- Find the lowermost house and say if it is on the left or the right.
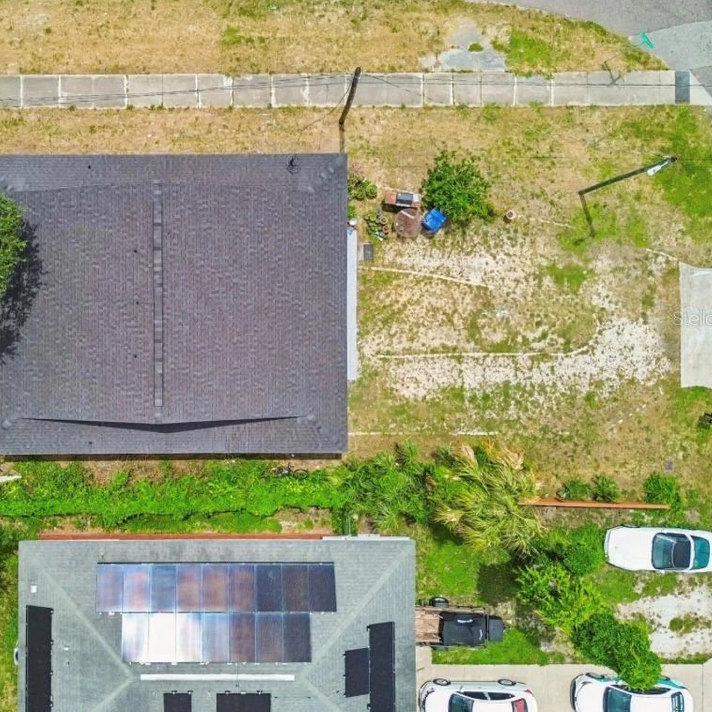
left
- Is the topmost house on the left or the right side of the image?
left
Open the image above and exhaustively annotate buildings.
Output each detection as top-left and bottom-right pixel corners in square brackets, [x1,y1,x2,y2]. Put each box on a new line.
[17,529,417,712]
[0,153,350,456]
